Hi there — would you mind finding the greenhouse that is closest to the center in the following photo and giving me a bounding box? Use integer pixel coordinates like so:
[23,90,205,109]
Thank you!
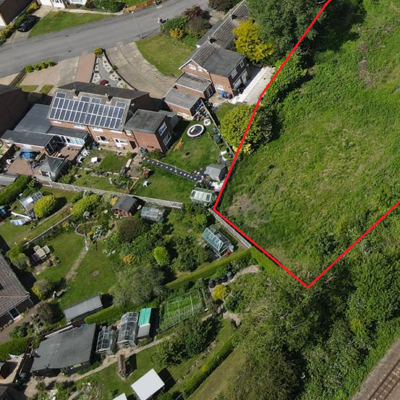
[185,186,218,211]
